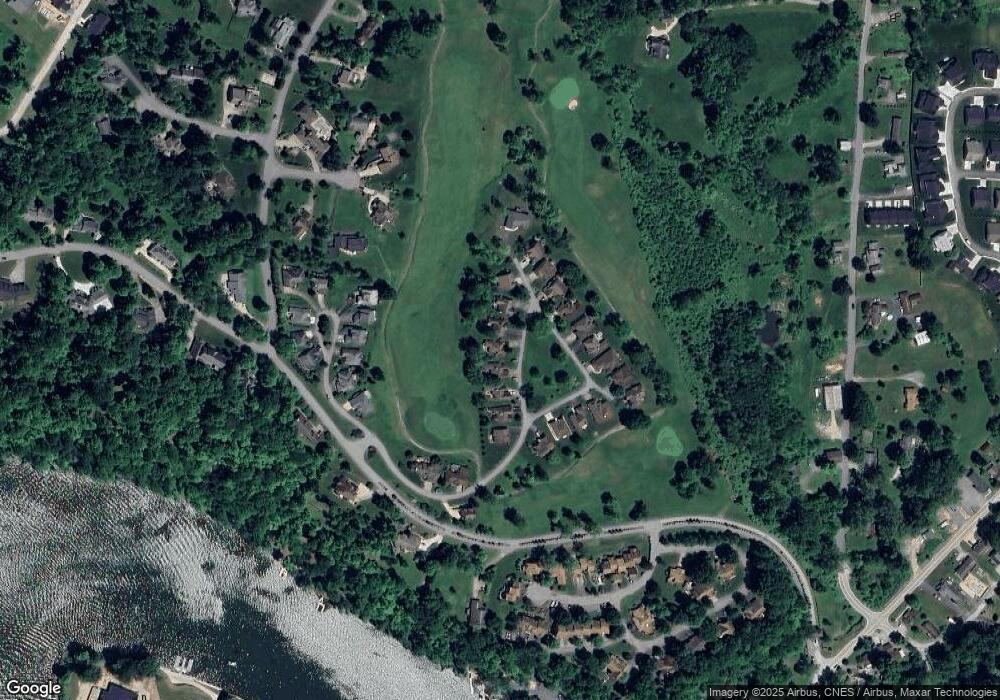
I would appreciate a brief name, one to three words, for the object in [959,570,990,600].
building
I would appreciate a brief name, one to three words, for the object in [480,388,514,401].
house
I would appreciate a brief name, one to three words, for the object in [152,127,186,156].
house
